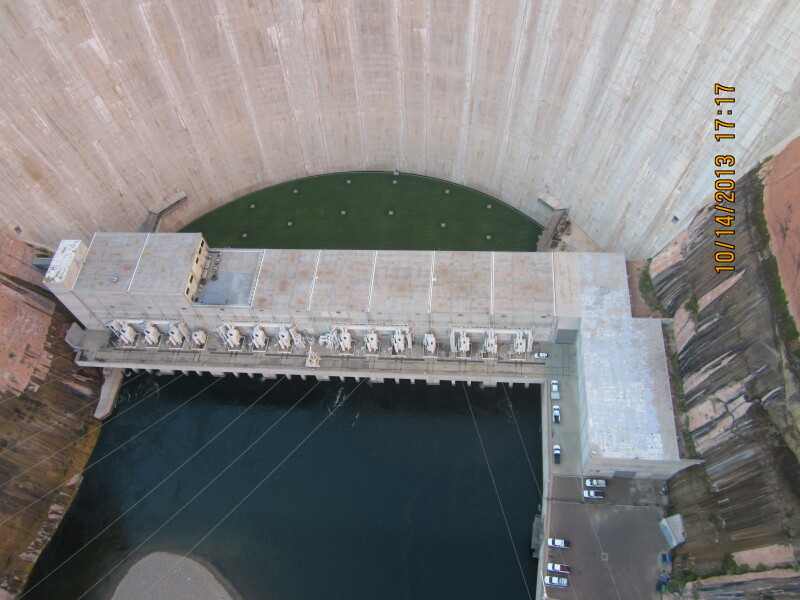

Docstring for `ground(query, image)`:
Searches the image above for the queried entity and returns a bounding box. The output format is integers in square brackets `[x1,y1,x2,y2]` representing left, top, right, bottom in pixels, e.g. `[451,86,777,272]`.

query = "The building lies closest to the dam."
[41,230,705,481]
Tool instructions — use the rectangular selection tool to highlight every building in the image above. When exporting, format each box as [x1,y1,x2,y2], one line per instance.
[657,516,686,552]
[41,230,705,481]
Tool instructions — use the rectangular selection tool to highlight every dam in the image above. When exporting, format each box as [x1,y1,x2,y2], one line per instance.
[0,0,800,292]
